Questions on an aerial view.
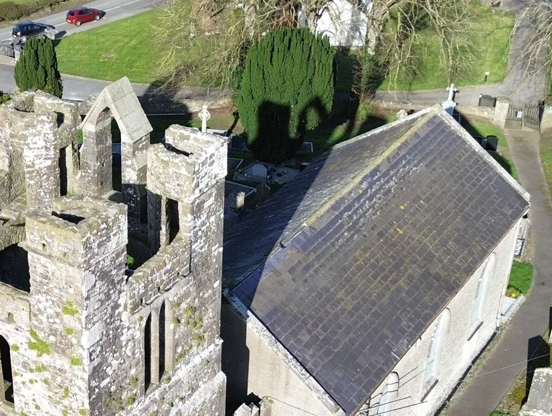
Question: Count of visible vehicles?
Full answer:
The picture shows 2 vehicles.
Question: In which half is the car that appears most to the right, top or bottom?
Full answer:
Seen from above, the car that appears most to the right lies in the top half of the view.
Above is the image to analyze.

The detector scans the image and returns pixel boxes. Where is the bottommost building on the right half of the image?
[222,67,534,416]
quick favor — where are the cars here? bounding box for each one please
[8,18,55,38]
[64,4,106,26]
